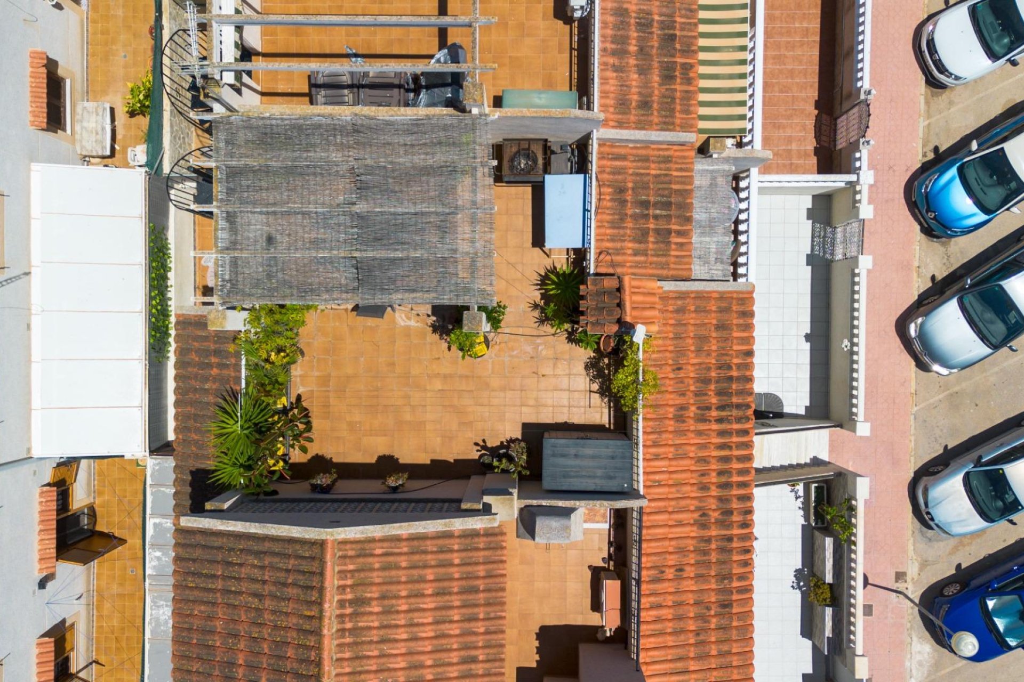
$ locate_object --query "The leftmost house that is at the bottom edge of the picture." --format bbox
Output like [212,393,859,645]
[0,459,125,682]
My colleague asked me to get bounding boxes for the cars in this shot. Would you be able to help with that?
[909,126,1024,243]
[927,555,1024,663]
[915,432,1024,545]
[915,0,1024,88]
[900,251,1024,381]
